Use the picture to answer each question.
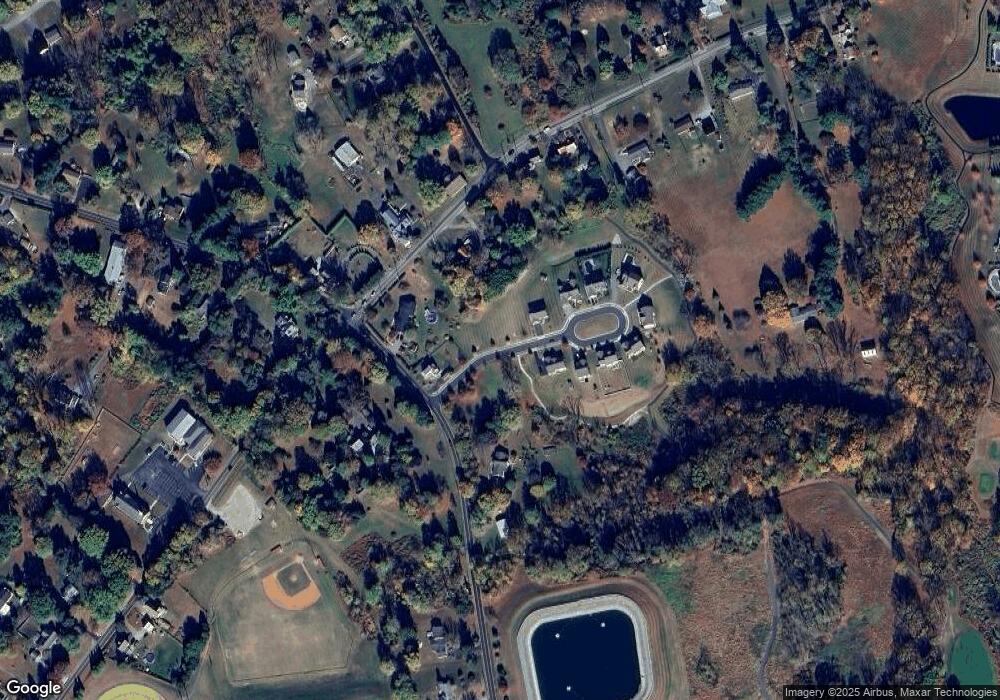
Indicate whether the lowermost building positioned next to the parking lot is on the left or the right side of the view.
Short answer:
left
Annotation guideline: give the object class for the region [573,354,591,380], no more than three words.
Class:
house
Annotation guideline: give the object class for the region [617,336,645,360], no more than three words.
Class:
house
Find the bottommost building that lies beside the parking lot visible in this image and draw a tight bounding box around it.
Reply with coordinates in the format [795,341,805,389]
[112,489,151,522]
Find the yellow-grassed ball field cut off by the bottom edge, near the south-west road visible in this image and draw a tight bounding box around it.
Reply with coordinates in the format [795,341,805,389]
[95,679,167,700]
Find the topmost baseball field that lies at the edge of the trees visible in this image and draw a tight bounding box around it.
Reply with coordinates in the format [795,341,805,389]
[217,539,351,681]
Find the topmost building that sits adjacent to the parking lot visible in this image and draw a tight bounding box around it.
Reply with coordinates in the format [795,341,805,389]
[164,409,214,456]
